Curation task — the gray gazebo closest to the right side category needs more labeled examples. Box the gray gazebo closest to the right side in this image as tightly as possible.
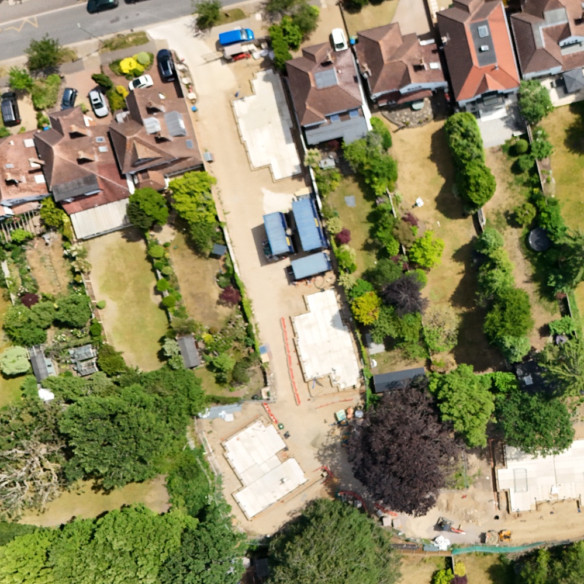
[561,68,584,96]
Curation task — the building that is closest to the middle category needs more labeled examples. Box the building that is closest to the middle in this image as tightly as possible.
[290,252,333,281]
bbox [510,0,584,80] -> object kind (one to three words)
house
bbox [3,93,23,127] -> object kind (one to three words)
car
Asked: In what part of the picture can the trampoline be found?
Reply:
right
